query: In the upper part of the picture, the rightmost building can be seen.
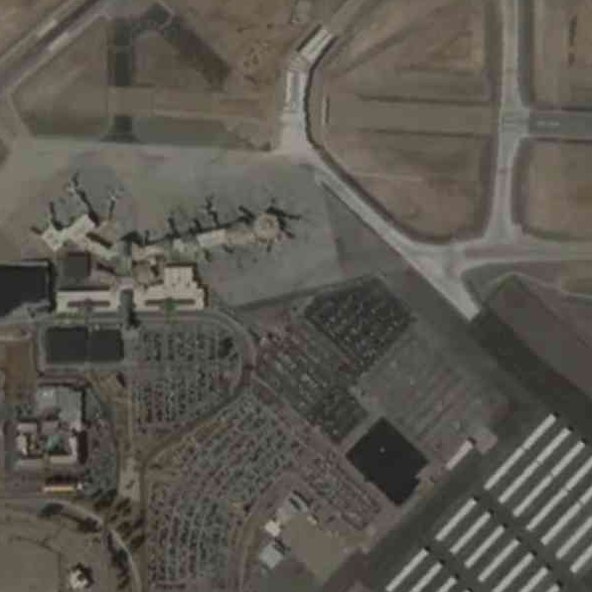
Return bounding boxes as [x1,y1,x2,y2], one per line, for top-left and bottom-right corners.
[255,216,278,238]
